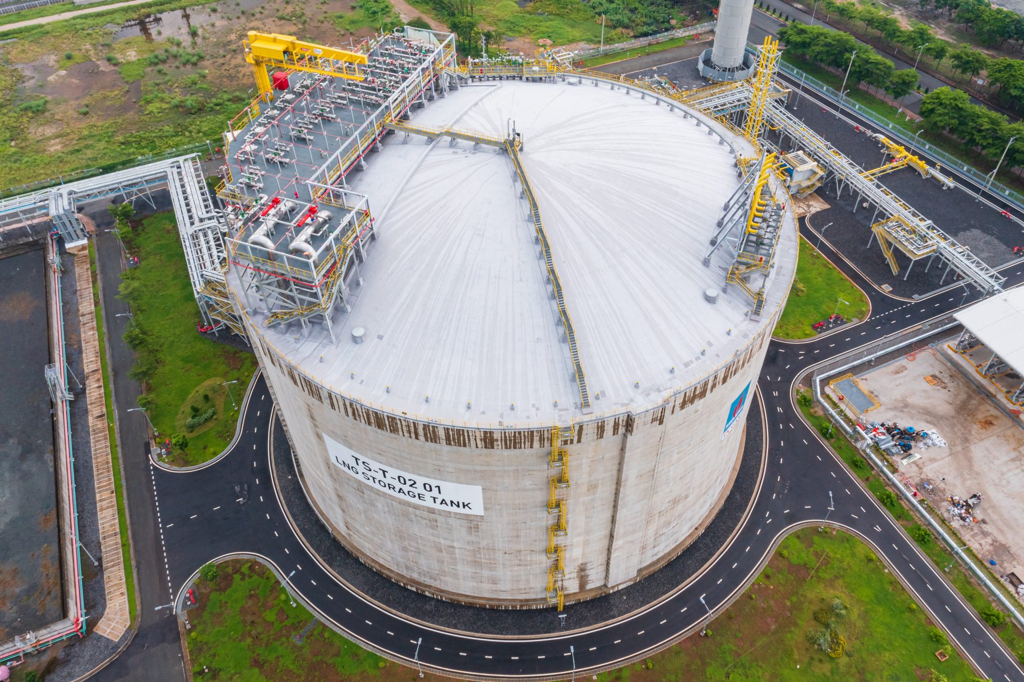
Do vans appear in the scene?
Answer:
No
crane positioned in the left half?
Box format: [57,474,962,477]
[239,27,369,105]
